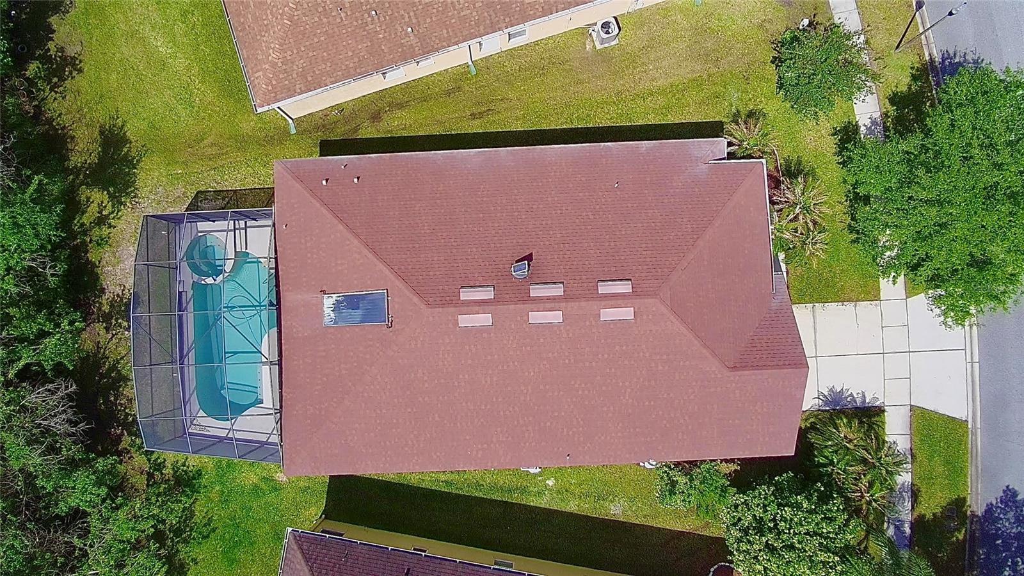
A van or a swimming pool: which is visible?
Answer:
swimming pool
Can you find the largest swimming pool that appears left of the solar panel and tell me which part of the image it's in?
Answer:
left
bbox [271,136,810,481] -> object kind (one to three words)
house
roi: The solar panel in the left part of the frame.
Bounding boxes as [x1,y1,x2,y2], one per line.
[319,290,393,329]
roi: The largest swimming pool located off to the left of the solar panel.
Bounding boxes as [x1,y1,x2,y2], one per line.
[192,250,280,421]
